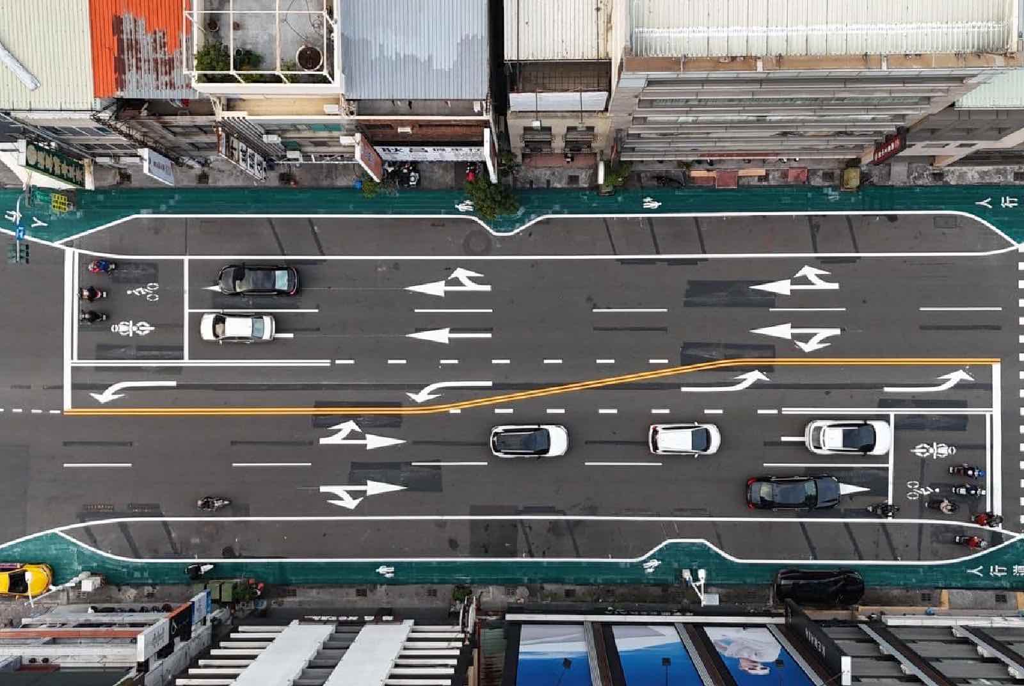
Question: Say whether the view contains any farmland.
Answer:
No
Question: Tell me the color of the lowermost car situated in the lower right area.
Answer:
black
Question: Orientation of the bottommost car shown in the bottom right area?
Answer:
from side to side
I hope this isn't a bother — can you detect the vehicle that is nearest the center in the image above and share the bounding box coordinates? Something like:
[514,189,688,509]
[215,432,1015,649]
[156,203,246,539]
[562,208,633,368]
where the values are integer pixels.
[490,421,568,460]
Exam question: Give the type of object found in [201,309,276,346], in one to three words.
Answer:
car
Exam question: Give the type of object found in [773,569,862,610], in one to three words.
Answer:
car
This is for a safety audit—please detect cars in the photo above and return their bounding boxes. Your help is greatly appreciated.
[490,421,568,460]
[201,309,276,346]
[773,569,862,610]
[0,560,57,600]
[220,261,300,299]
[649,421,720,458]
[804,417,889,458]
[747,473,838,513]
